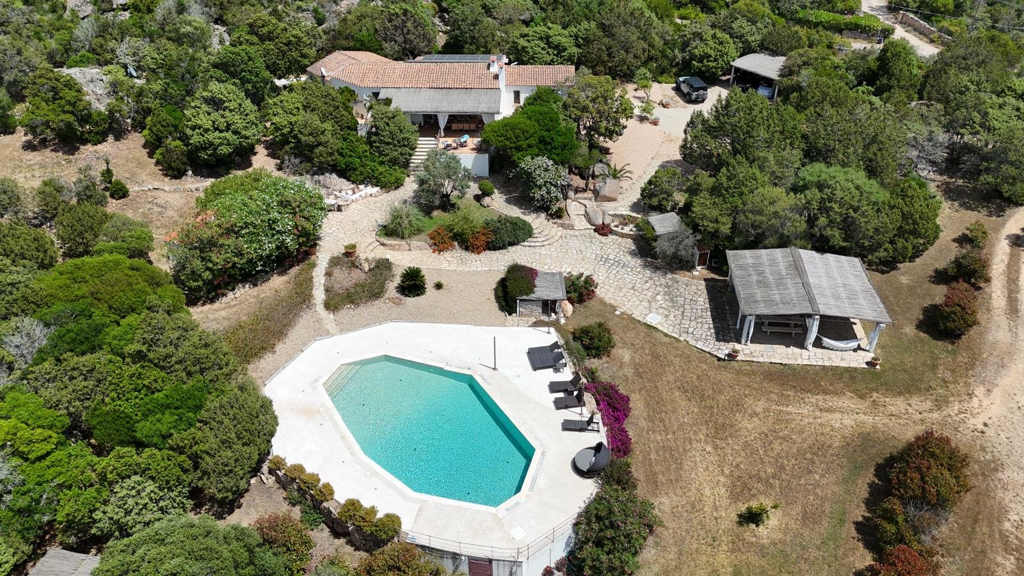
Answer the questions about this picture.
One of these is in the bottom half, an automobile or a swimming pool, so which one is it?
swimming pool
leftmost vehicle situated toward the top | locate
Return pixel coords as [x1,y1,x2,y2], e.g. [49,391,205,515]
[673,72,710,98]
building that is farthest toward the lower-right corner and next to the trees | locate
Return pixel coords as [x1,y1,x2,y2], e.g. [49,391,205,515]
[715,244,892,381]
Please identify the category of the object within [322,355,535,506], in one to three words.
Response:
swimming pool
